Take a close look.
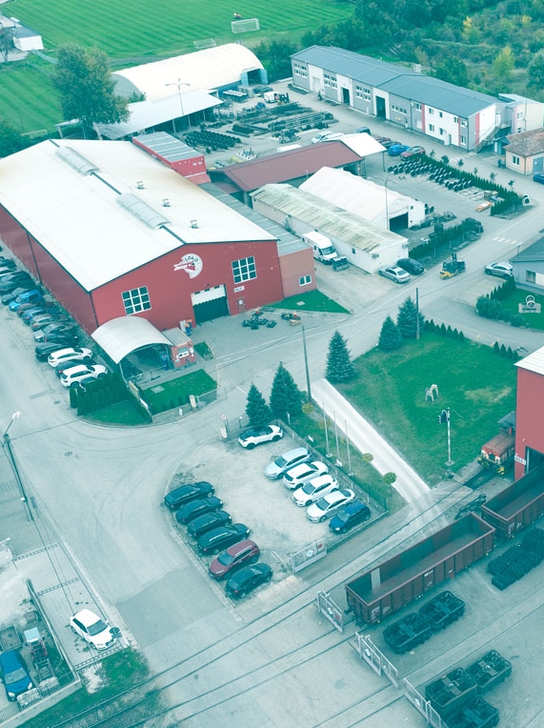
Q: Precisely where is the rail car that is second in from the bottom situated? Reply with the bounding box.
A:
[481,460,544,545]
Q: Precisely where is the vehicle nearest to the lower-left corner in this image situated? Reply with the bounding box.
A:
[0,643,32,699]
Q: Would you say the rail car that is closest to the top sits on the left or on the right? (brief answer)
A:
right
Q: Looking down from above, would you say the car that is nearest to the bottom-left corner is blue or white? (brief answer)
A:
blue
